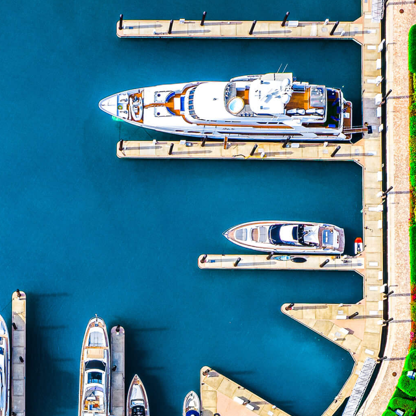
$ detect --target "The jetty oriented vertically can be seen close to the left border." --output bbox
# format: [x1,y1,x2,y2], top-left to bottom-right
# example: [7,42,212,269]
[11,290,26,416]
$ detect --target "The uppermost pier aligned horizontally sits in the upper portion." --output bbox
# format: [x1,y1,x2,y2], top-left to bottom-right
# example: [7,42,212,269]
[116,16,361,49]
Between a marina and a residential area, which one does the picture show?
marina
